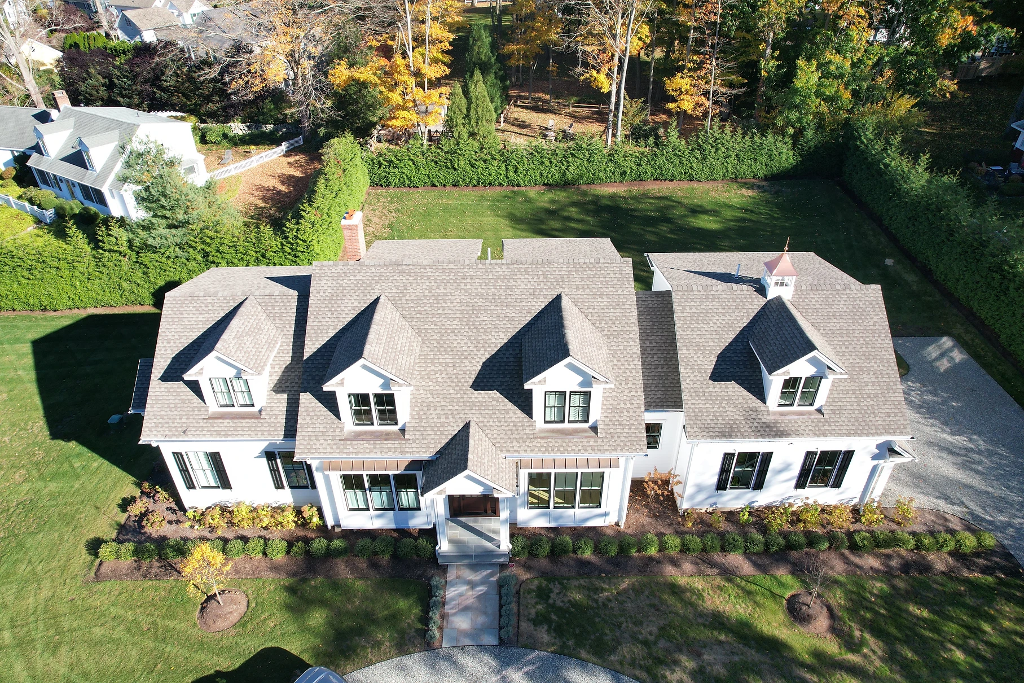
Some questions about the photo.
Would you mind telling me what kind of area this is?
residential area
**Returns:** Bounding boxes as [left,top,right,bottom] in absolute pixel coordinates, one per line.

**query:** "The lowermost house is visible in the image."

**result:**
[125,212,925,564]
